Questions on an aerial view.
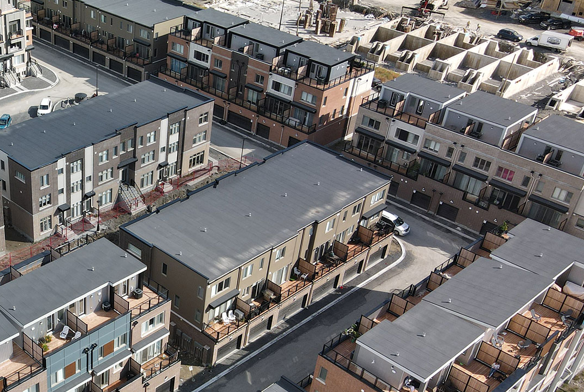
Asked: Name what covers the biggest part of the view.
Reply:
buildings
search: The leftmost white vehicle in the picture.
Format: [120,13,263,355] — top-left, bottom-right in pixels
[36,96,50,116]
